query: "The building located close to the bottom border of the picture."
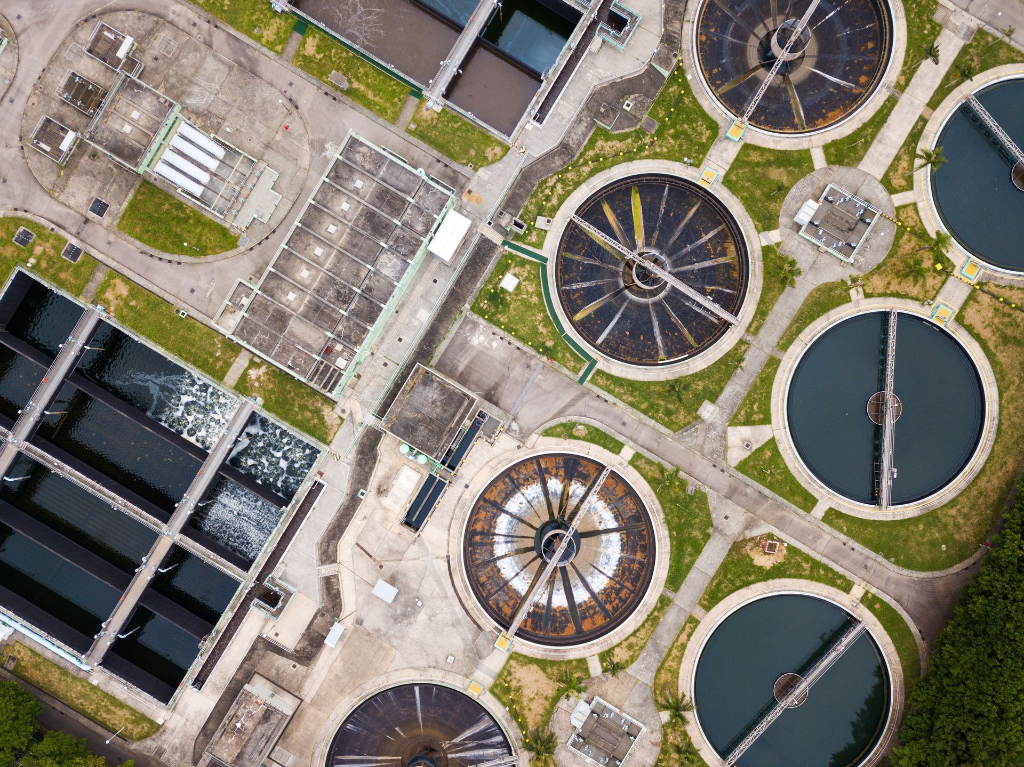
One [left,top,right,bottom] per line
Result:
[197,681,294,767]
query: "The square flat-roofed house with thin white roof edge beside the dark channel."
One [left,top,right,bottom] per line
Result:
[379,362,477,463]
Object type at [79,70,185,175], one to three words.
house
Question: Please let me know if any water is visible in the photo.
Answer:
Yes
